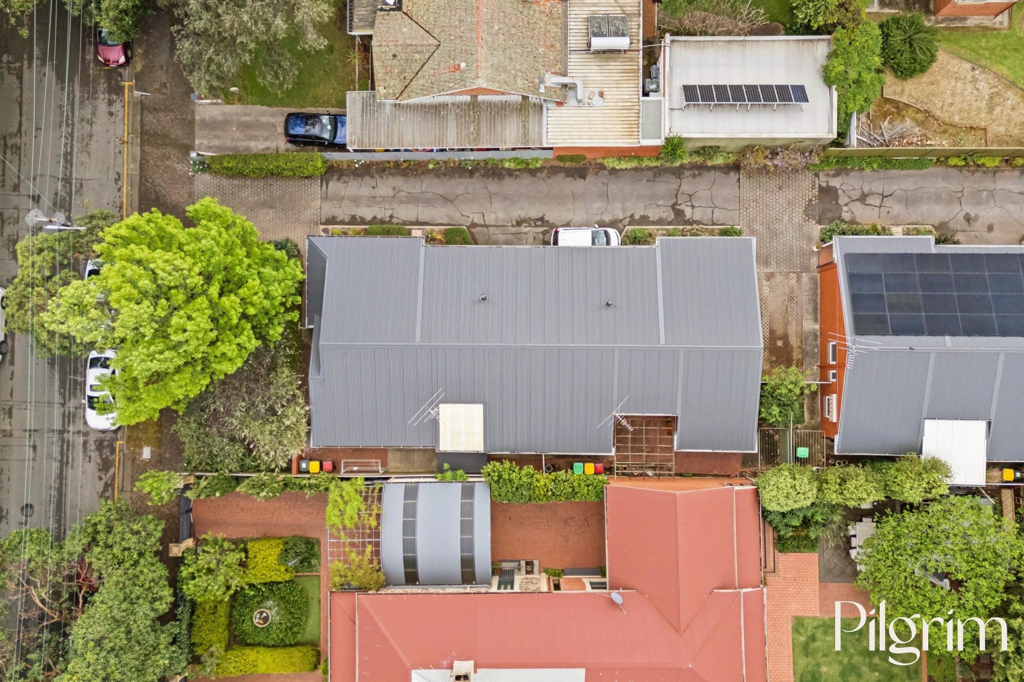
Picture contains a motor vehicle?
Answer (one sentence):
Yes, a motor vehicle appears in the view.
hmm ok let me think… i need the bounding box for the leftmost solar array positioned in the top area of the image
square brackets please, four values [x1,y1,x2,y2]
[669,84,808,111]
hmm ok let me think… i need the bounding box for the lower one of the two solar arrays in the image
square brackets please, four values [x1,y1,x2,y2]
[844,252,1024,337]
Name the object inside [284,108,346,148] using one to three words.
car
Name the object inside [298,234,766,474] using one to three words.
house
